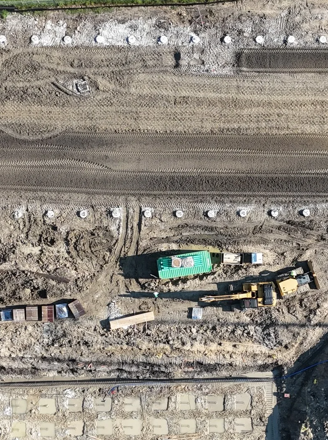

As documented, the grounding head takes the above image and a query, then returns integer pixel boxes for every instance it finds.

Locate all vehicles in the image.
[275,260,322,299]
[201,281,276,308]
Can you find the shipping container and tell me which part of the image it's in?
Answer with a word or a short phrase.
center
